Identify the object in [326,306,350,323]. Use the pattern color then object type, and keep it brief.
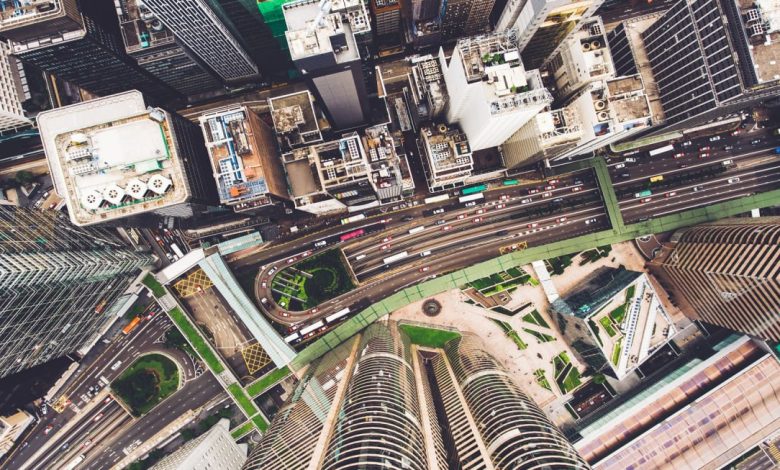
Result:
white vehicle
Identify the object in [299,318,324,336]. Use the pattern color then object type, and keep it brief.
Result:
white vehicle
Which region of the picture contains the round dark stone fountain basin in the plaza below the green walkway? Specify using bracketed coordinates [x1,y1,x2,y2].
[421,297,442,318]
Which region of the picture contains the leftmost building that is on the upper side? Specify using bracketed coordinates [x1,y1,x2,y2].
[0,78,55,159]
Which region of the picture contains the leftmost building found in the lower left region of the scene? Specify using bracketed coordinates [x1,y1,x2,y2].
[0,397,42,453]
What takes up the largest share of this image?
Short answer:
buildings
